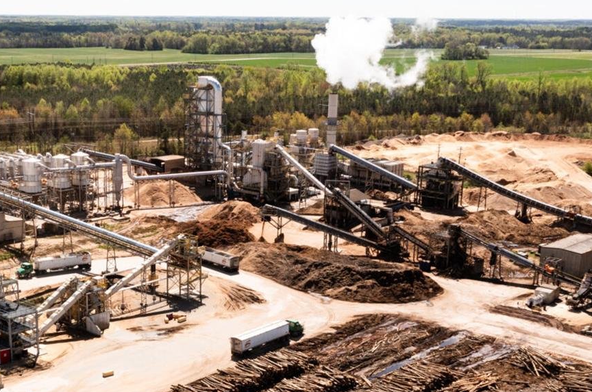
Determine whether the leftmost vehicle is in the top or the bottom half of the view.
bottom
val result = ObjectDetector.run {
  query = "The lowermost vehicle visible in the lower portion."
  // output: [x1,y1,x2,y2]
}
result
[229,320,301,353]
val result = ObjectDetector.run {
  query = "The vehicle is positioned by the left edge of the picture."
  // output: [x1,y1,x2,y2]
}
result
[19,255,91,275]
